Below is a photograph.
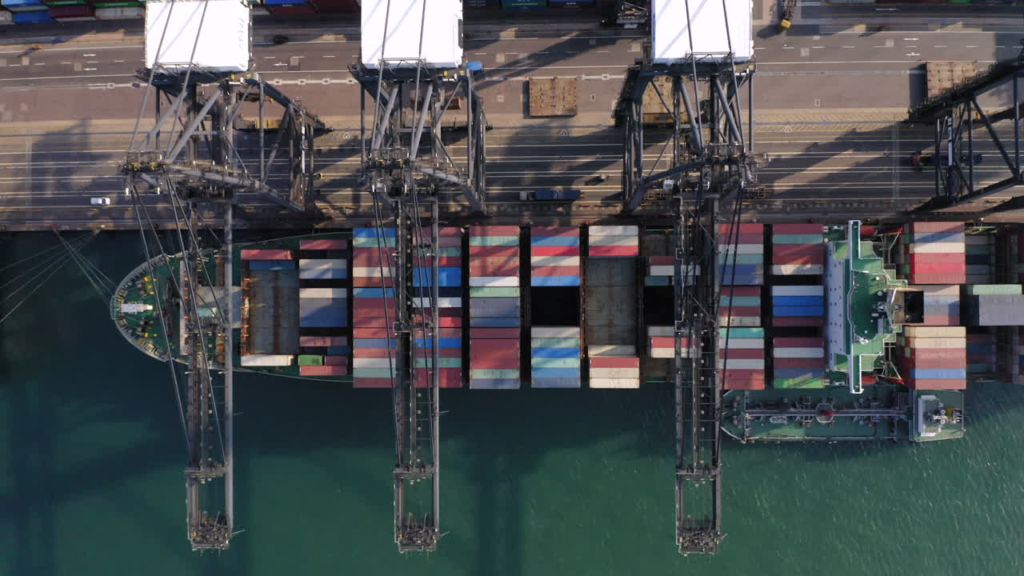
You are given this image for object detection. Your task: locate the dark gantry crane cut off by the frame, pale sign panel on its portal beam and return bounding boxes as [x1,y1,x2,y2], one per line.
[896,38,1024,216]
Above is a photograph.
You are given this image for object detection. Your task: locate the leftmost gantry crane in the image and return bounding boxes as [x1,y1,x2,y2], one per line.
[117,0,348,562]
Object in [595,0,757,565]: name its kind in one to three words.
container crane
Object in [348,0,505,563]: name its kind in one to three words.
container crane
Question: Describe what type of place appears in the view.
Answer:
port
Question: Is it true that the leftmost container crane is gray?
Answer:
Yes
